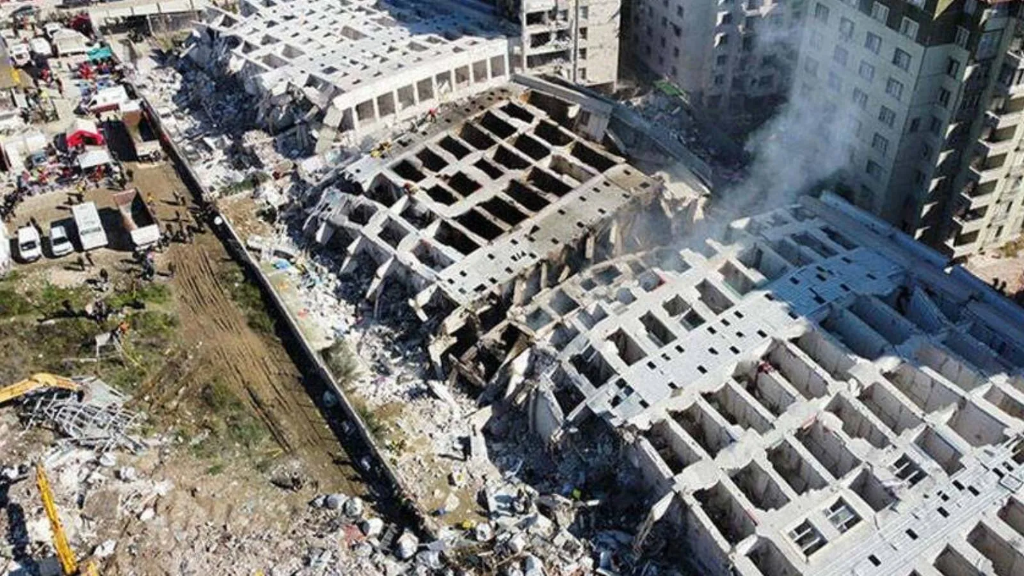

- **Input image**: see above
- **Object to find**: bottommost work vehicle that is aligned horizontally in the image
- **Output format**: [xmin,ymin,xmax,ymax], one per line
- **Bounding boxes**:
[0,368,92,400]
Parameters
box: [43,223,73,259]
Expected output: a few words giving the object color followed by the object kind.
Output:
white car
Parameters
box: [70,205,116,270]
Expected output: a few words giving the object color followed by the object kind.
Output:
white vehicle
